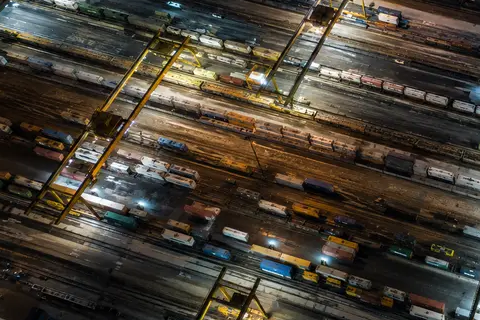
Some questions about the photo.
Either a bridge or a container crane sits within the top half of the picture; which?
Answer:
container crane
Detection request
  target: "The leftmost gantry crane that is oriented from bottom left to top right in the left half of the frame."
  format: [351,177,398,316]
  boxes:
[23,29,206,227]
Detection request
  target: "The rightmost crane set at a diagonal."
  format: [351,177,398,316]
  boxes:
[259,0,364,112]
